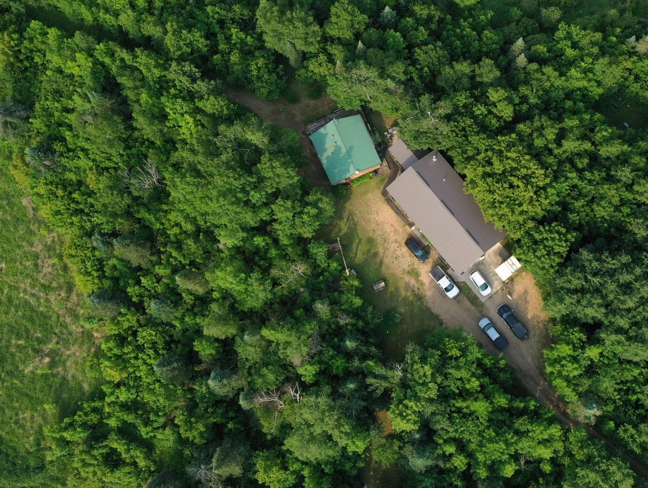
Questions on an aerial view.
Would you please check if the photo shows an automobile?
Yes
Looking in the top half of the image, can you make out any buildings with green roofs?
Yes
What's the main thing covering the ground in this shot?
trees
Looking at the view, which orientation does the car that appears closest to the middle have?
on a diagonal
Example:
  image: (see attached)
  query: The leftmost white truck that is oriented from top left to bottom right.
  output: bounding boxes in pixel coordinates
[427,263,460,299]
